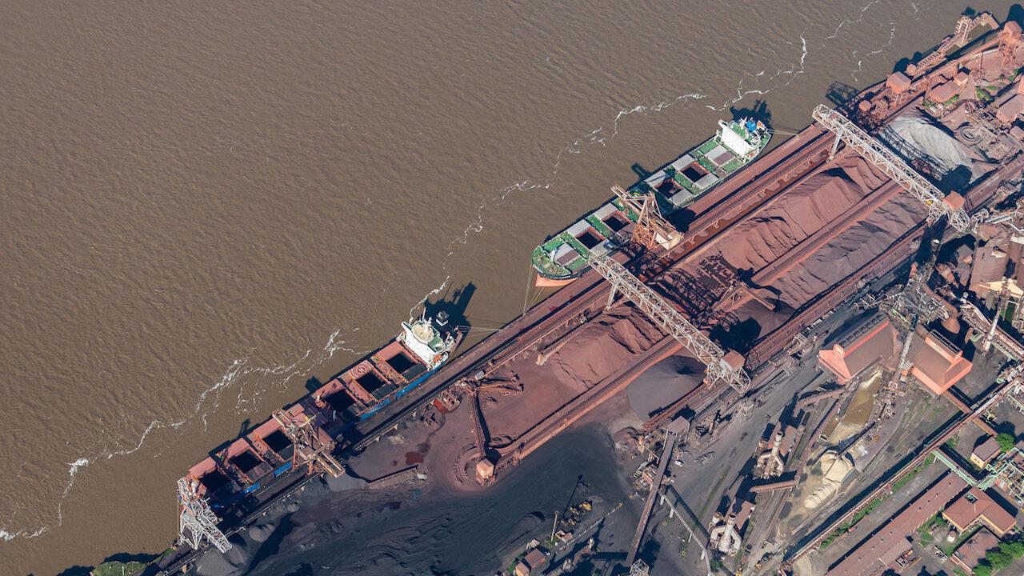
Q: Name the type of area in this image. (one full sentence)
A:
The picture captures a port.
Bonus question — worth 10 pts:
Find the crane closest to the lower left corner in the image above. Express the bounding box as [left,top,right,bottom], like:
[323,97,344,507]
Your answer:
[165,475,232,555]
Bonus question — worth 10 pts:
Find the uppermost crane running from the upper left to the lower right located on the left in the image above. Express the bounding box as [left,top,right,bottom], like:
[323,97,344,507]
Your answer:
[271,407,349,479]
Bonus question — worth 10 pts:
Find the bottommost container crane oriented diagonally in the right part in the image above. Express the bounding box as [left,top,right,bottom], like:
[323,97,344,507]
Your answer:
[588,247,749,400]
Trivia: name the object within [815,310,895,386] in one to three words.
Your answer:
building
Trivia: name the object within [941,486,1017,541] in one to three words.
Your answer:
building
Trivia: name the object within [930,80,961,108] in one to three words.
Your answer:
shed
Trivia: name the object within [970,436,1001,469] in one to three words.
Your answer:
house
